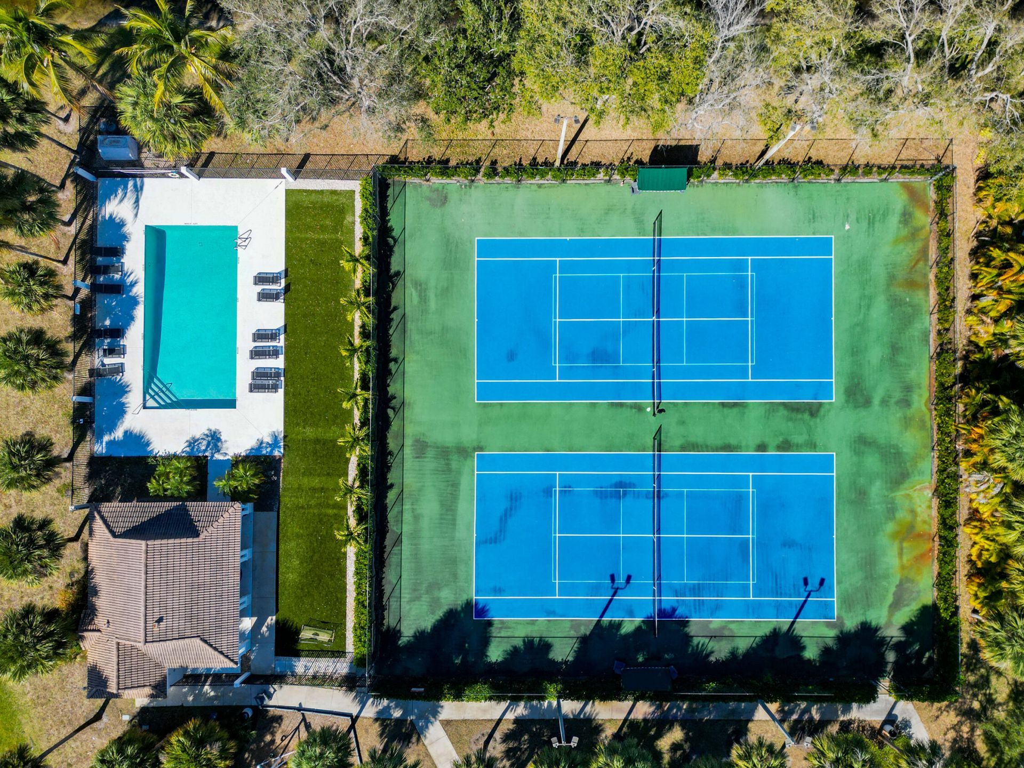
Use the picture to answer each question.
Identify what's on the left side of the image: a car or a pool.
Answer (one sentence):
It is a pool that can be seen on the left side of the image.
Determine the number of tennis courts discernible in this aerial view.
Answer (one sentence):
I count 2 tennis courts.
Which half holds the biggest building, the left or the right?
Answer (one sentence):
You can find the biggest building on the left side of the picture.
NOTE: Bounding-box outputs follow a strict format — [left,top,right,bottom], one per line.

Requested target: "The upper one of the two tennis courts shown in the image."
[475,236,836,402]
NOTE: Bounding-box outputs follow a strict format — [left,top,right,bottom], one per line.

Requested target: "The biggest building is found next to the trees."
[73,501,253,701]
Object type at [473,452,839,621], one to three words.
tennis court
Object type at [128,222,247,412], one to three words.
swimming pool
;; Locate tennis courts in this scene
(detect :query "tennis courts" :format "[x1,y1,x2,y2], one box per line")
[473,452,839,621]
[475,236,836,402]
